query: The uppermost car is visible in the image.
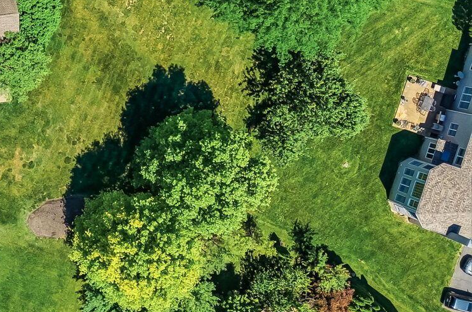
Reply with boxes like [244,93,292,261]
[449,248,472,271]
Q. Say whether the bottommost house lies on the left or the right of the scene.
right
